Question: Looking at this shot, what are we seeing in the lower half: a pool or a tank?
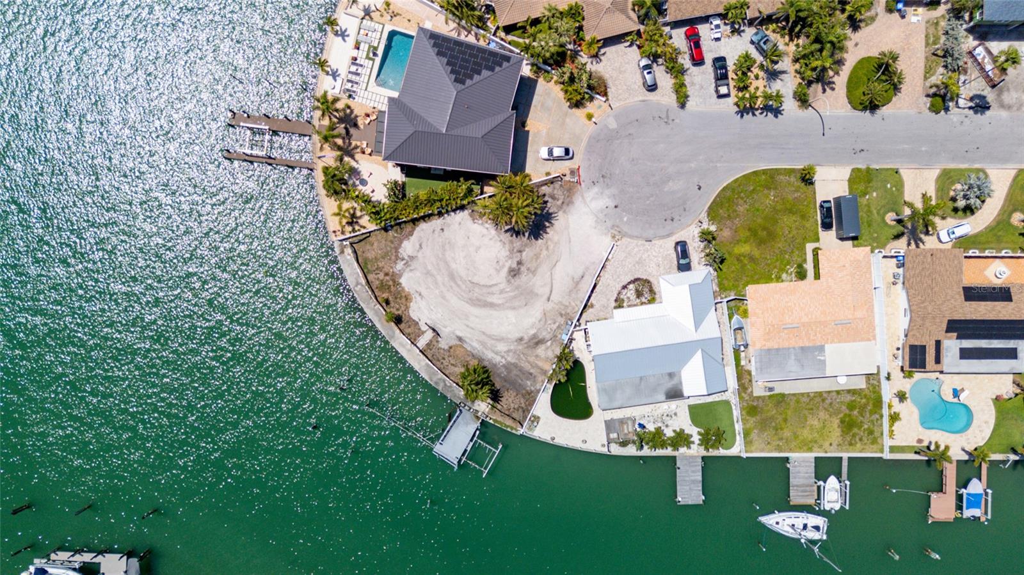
pool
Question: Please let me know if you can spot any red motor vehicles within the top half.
Yes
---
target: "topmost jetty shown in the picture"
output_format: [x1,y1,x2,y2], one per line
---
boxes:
[225,108,313,135]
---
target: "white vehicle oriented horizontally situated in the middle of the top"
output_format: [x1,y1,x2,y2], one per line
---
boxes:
[539,144,574,161]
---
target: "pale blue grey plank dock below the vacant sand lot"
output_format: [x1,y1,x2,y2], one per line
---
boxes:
[431,407,482,472]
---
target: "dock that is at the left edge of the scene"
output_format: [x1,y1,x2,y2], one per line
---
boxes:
[39,548,149,575]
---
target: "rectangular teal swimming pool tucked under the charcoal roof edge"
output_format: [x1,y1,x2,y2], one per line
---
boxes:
[372,26,416,94]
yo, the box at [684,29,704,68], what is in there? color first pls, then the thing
red car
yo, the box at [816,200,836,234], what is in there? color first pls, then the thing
black car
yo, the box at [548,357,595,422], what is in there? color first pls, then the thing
green swimming pool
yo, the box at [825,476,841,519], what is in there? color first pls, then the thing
white boat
